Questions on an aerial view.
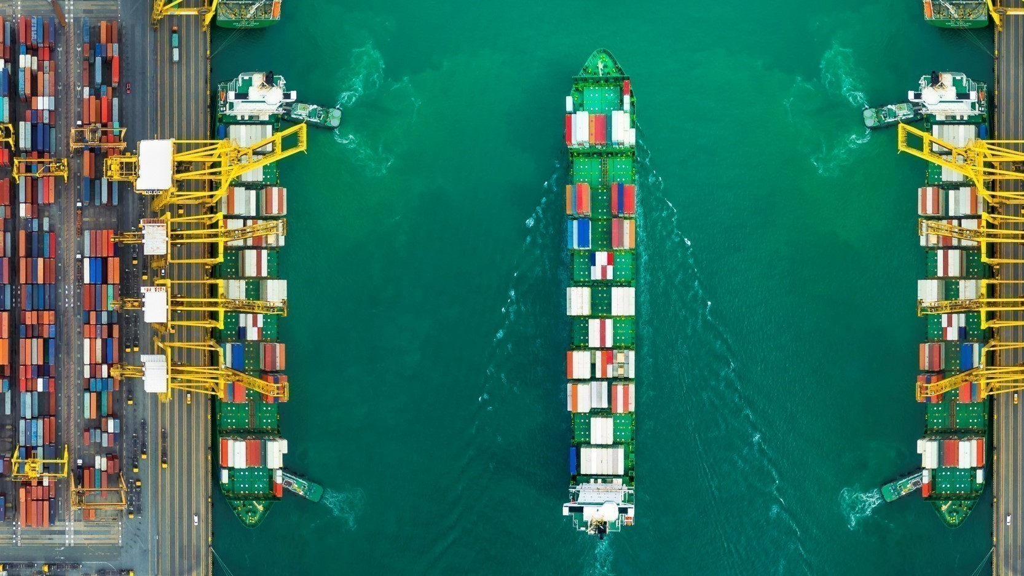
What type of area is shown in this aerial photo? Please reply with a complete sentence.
The area seen from above is a port.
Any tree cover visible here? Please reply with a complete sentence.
No, there is no tree cover in the image.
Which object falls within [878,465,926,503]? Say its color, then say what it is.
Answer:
green boat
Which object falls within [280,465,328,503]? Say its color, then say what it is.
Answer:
green boat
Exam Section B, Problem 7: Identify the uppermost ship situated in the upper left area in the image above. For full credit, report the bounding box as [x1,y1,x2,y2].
[217,0,283,31]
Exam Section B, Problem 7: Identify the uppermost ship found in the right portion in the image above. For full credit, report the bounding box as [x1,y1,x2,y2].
[923,0,989,31]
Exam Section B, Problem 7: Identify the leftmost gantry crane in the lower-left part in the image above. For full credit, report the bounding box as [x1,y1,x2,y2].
[11,443,69,480]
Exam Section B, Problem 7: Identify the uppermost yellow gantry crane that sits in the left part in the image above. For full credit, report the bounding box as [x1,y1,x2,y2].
[152,0,219,35]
